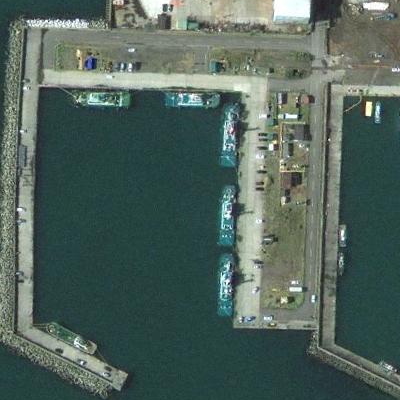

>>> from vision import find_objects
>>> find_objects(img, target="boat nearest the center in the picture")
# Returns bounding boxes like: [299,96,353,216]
[219,182,235,246]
